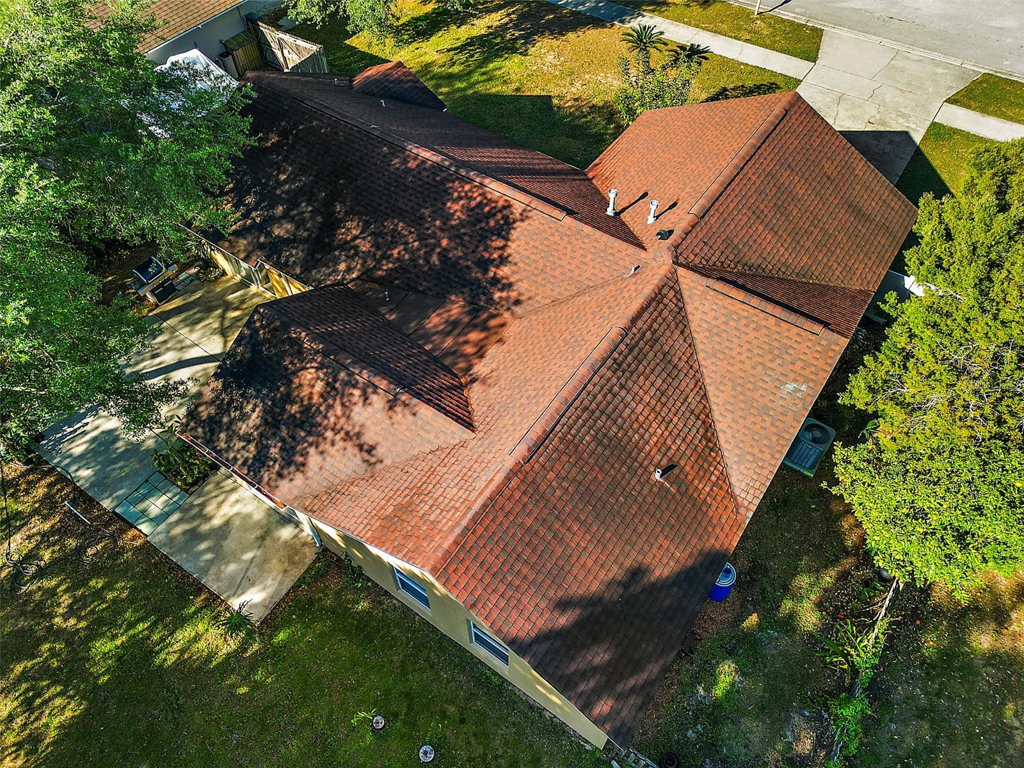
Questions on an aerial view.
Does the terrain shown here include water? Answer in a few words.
No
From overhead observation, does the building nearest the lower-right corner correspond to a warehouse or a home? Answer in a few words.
home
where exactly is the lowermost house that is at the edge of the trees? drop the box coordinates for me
[157,59,916,749]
